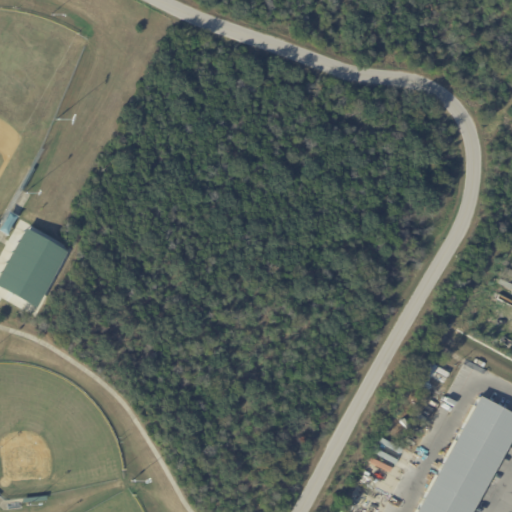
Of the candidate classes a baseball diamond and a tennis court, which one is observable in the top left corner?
baseball diamond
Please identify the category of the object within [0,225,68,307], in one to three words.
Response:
building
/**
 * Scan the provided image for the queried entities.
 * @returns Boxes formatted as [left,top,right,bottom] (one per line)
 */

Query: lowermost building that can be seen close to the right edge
[416,393,512,512]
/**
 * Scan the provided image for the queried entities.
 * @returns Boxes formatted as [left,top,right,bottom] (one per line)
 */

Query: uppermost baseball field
[0,9,86,216]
